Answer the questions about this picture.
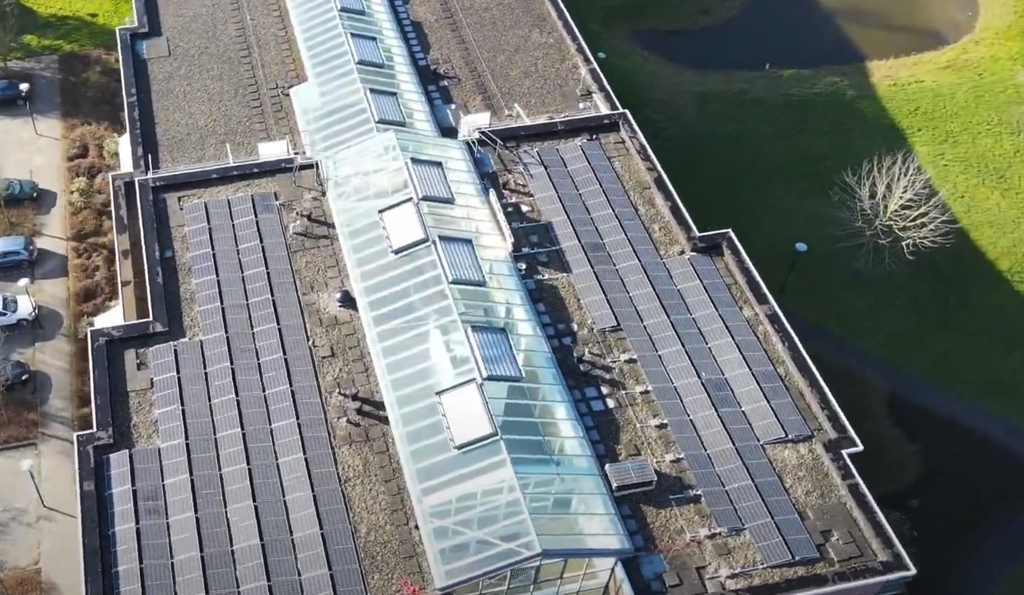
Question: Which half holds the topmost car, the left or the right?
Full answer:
You can find the topmost car on the left side of the picture.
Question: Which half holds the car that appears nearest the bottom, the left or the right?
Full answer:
You can find the car that appears nearest the bottom on the left side of the picture.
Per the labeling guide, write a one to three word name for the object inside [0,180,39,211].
car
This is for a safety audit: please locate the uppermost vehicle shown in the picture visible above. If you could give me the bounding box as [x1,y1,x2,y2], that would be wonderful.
[0,81,30,109]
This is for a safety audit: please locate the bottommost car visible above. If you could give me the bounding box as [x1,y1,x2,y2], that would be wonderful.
[0,362,34,400]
